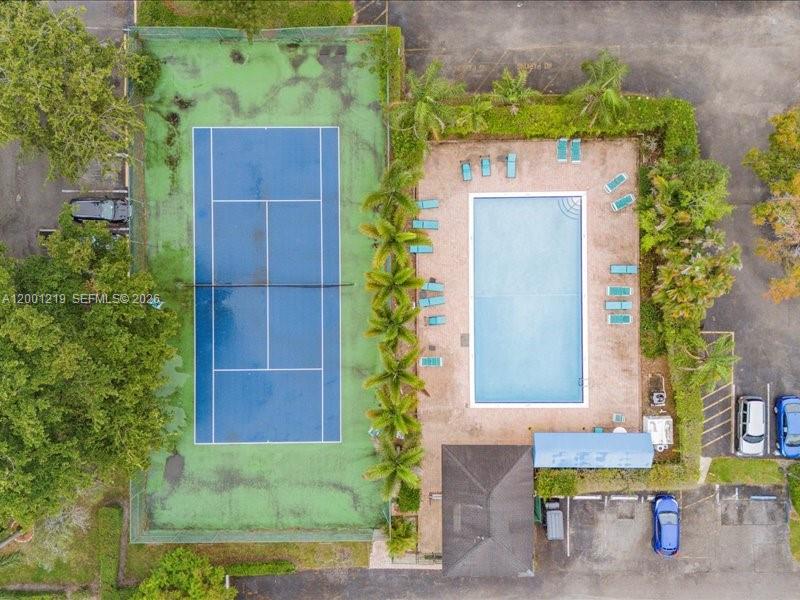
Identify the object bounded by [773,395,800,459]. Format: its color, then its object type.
blue car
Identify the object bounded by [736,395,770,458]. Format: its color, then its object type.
white car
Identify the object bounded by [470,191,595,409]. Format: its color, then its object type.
white swimming pool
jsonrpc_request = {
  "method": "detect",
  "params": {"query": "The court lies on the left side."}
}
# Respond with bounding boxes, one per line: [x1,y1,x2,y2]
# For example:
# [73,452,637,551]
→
[144,39,389,531]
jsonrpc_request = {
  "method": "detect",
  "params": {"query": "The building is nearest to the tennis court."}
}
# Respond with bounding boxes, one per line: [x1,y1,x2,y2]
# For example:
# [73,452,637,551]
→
[441,445,537,578]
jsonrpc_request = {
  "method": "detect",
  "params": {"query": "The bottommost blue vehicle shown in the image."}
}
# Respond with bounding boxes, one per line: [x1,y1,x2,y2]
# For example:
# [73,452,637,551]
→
[652,492,684,558]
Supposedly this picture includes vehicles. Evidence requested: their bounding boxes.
[652,492,684,558]
[542,498,564,540]
[736,395,770,458]
[773,395,800,459]
[66,195,128,225]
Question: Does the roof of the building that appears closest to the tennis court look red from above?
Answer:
No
